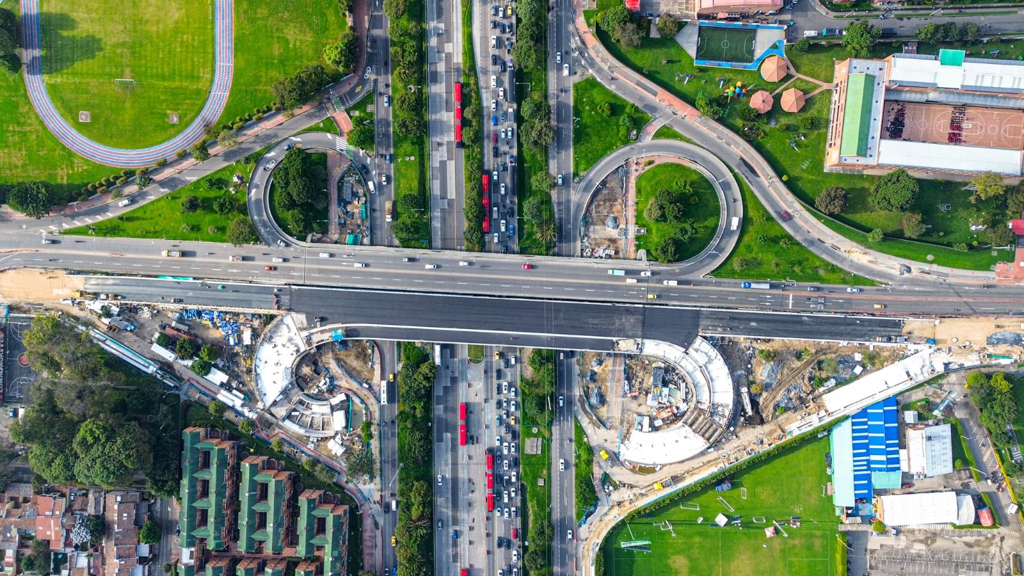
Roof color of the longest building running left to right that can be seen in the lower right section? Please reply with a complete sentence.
The roof of the longest building running left to right that can be seen in the lower right section is white.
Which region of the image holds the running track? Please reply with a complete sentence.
The running track is located in the top left region of the scene.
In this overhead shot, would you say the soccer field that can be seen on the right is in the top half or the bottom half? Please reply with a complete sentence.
The bottom half of the photo is where the soccer field that can be seen on the right is.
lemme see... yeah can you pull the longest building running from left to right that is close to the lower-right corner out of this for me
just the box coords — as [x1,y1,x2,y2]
[870,488,974,526]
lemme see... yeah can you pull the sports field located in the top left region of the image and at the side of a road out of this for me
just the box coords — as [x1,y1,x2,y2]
[39,0,215,149]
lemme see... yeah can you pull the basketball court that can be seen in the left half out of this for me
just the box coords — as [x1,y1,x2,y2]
[0,317,42,404]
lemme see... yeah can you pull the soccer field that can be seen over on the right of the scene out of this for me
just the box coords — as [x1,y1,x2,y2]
[595,429,838,576]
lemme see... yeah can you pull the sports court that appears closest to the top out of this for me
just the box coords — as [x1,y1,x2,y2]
[679,20,785,71]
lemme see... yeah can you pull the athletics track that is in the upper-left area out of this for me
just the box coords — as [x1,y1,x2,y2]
[20,0,234,168]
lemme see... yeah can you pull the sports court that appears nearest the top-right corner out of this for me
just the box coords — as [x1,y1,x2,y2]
[881,101,1024,150]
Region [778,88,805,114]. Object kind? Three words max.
gazebo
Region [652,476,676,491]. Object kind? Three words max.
vehicle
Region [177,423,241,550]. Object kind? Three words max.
building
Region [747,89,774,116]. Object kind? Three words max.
gazebo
